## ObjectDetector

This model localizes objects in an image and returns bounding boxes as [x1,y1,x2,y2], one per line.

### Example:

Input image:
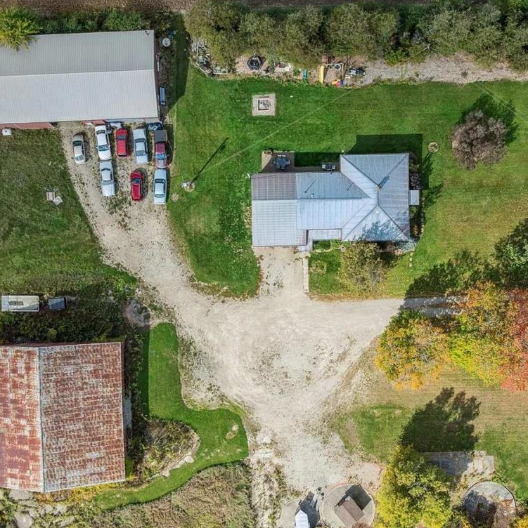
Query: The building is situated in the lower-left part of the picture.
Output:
[0,340,138,492]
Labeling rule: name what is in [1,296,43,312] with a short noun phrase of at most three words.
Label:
trailer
